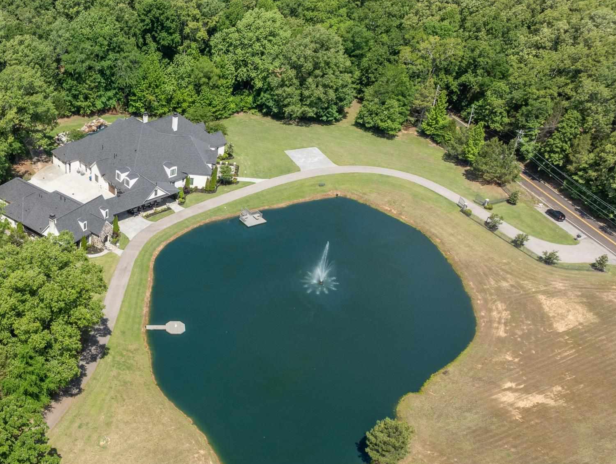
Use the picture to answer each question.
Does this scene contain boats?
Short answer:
No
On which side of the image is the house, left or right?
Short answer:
left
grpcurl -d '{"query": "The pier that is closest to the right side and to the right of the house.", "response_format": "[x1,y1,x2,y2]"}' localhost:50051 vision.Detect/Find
[239,207,267,229]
